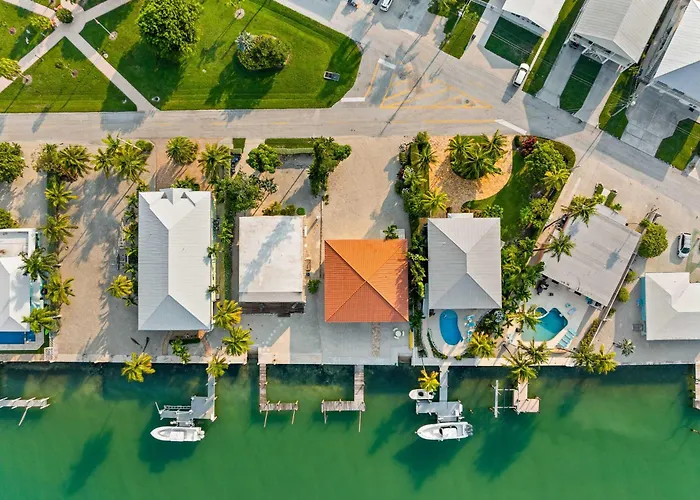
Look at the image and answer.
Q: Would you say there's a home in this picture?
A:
Yes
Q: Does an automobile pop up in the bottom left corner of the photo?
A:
No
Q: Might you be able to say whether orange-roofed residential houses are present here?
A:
Yes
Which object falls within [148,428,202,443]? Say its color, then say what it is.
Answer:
white boat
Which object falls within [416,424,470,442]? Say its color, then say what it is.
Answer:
white boat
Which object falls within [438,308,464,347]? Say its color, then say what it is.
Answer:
blue swimming pool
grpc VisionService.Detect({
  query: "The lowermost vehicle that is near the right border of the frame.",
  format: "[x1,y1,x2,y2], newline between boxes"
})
[676,232,693,257]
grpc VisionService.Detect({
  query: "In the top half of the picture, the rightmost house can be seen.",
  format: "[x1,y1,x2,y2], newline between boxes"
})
[642,0,700,112]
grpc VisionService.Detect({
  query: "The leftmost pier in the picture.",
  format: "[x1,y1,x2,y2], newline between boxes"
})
[0,398,50,425]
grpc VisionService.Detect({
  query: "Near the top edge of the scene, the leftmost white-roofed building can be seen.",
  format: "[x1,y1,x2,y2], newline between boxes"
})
[497,0,563,41]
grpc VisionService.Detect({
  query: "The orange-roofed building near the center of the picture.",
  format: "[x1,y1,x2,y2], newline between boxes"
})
[323,239,409,324]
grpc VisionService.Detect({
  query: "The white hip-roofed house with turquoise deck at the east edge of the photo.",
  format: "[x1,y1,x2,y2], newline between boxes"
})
[632,272,700,340]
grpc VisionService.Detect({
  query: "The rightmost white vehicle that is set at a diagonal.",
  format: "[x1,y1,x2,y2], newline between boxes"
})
[511,64,531,87]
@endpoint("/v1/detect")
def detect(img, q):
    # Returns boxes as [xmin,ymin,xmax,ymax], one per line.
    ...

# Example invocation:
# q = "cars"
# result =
[377,0,394,14]
[565,34,579,54]
[511,64,531,87]
[347,0,360,8]
[676,232,693,257]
